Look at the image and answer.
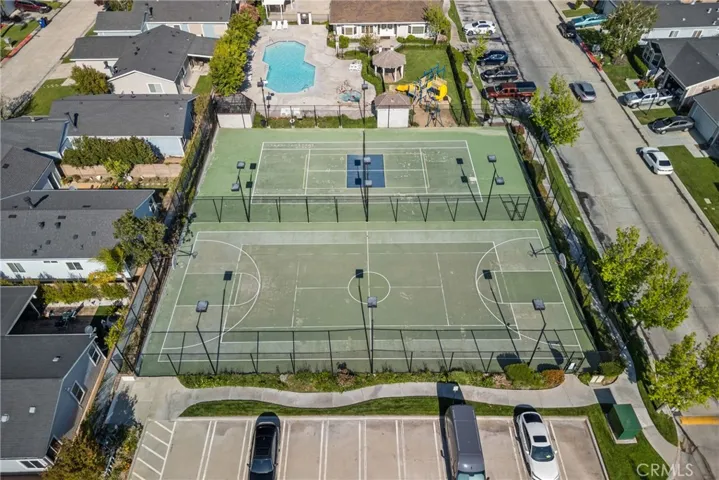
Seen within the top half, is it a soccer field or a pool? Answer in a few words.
pool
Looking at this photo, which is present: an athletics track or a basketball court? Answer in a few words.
basketball court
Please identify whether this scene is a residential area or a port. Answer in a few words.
residential area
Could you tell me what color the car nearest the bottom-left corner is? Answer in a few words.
black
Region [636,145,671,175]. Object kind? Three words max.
car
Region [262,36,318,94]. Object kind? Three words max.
swimming pool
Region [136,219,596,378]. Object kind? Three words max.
basketball court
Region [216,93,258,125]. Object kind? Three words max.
shed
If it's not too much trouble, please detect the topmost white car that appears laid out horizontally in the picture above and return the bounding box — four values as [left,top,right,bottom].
[463,22,499,36]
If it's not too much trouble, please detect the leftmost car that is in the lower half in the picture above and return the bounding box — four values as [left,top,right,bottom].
[243,415,281,480]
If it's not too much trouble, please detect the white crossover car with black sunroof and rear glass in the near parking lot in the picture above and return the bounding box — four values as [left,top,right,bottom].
[515,408,558,480]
